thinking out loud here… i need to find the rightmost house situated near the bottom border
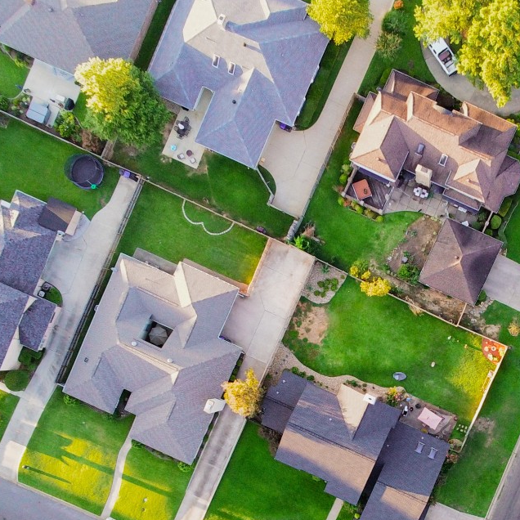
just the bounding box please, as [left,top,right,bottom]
[261,369,451,520]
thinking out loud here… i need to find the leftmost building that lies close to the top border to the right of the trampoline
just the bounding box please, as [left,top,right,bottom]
[148,0,334,169]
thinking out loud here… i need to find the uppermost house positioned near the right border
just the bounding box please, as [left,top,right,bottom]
[349,68,520,216]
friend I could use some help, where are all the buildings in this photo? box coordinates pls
[0,0,162,78]
[419,217,504,306]
[148,0,334,169]
[261,369,451,520]
[62,253,243,465]
[0,190,69,374]
[349,68,520,216]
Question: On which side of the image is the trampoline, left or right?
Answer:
left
